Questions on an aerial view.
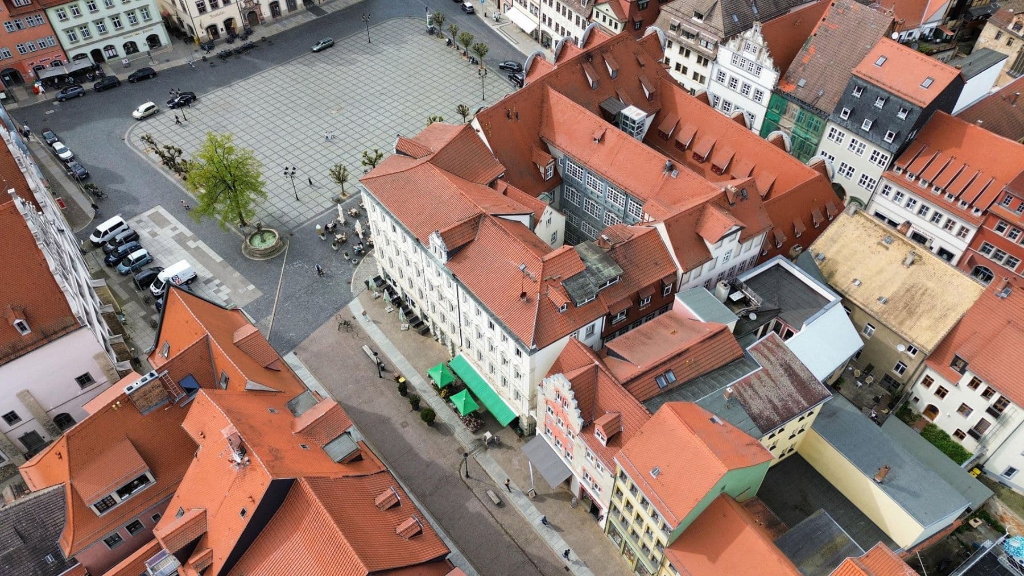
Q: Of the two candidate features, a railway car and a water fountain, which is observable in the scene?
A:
water fountain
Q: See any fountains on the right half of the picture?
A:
No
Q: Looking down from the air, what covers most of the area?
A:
buildings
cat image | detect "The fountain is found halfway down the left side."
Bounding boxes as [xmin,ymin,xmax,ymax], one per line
[242,222,285,260]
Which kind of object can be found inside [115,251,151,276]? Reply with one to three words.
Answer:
car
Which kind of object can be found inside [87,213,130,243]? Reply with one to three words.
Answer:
van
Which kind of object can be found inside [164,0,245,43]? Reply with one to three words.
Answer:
house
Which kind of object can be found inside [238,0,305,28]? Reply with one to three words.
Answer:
house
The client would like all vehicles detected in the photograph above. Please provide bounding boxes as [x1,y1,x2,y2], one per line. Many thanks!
[91,73,121,91]
[498,60,524,72]
[49,140,73,159]
[87,213,130,243]
[39,124,60,143]
[99,226,139,252]
[115,251,151,276]
[54,80,85,99]
[102,239,141,265]
[310,34,335,50]
[131,101,159,118]
[508,73,525,88]
[148,260,197,297]
[166,91,196,107]
[126,64,156,81]
[62,155,88,177]
[128,264,165,289]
